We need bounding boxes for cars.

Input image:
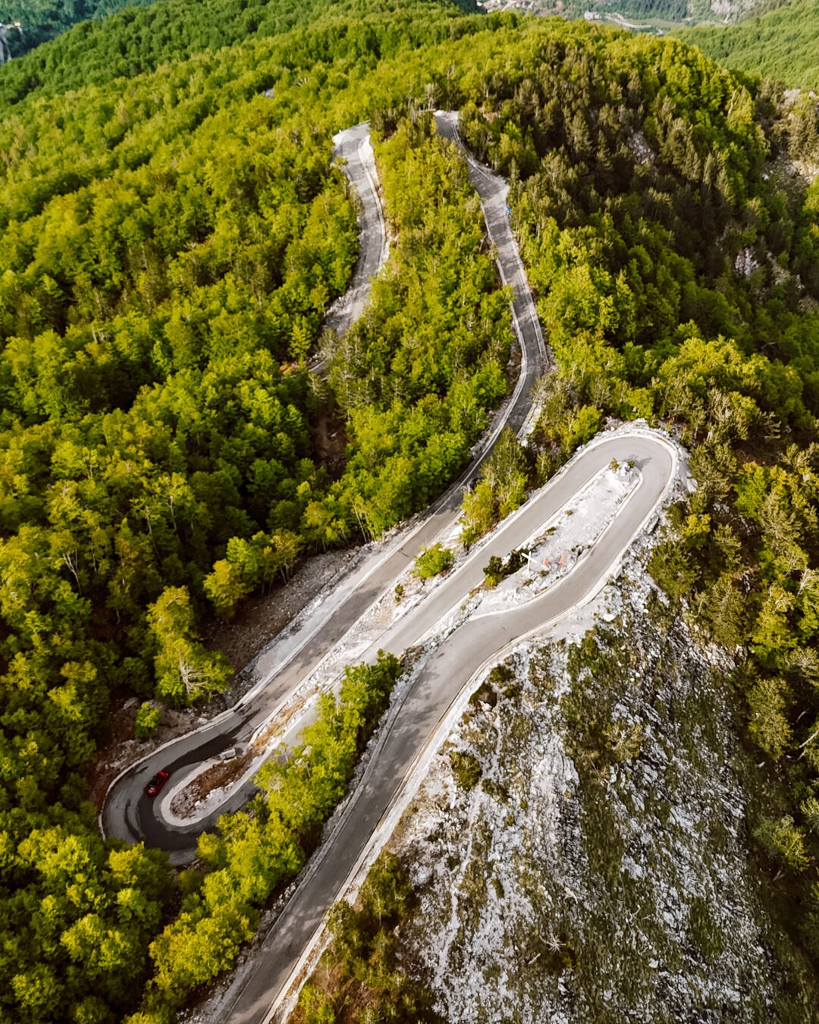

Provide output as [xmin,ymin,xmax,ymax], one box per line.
[144,771,171,795]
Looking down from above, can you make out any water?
No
